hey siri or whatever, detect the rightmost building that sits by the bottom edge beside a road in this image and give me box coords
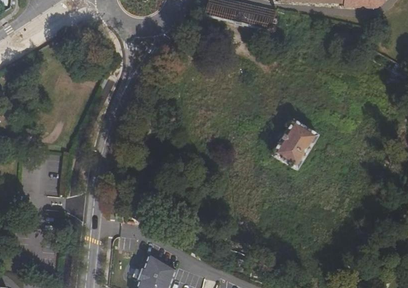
[137,256,178,288]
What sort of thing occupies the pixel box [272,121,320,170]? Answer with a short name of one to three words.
house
